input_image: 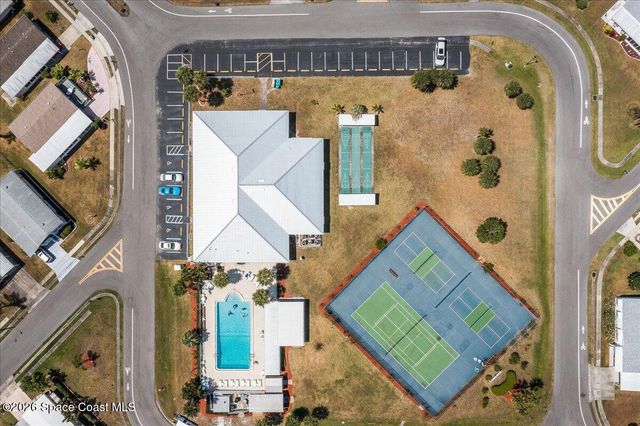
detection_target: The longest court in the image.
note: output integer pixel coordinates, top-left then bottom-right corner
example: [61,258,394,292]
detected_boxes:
[351,281,460,389]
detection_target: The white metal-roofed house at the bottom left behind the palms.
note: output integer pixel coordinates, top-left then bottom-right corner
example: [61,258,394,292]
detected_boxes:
[14,391,87,426]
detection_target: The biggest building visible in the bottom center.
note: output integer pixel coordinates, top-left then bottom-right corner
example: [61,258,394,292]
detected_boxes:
[264,299,305,375]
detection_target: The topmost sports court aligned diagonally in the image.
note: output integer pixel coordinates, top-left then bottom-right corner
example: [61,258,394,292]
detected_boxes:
[394,232,455,294]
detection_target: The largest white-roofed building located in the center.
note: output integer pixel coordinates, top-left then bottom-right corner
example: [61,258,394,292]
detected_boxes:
[192,111,324,262]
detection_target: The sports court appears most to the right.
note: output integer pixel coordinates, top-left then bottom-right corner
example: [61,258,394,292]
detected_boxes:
[449,287,511,348]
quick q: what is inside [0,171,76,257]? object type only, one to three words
house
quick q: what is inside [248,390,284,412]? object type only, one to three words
shed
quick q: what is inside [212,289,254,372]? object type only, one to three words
swimming pool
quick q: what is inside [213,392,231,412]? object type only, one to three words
building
